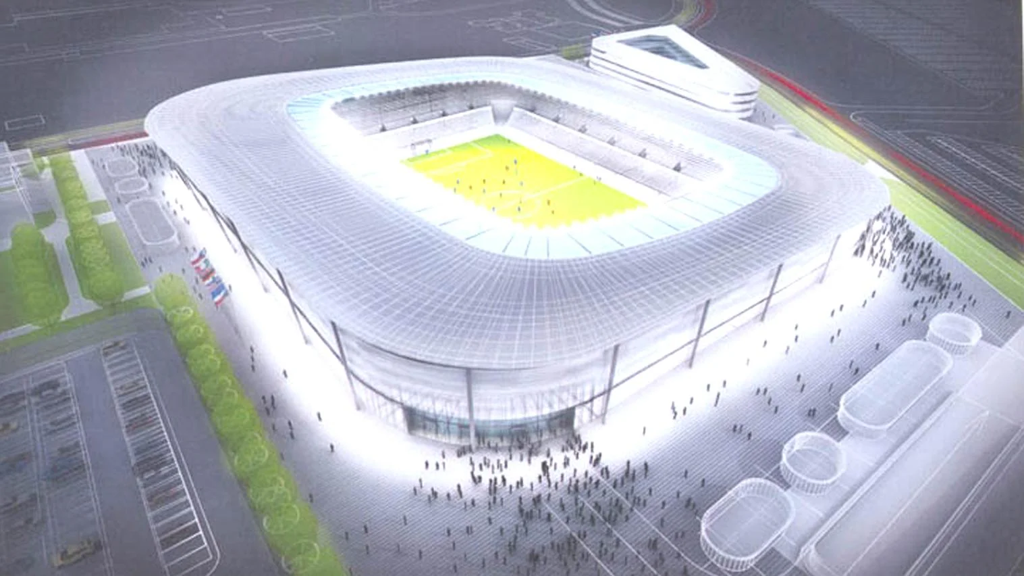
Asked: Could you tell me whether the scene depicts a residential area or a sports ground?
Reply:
sports ground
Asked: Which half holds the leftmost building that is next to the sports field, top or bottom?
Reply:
top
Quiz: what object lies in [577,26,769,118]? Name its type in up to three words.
building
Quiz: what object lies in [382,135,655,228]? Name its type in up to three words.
sports field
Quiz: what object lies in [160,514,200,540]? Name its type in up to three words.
car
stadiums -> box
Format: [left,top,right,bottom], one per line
[155,57,891,450]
